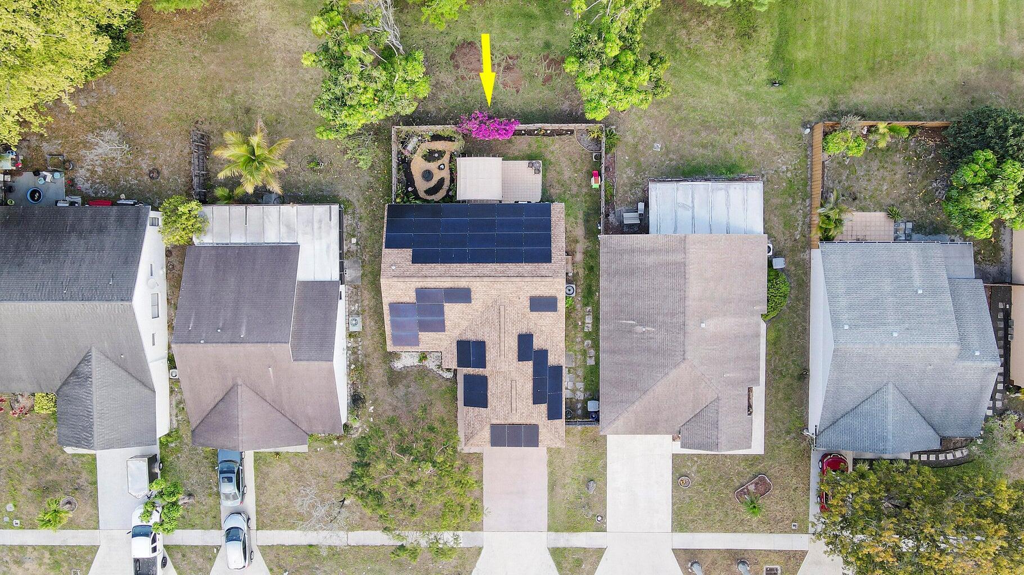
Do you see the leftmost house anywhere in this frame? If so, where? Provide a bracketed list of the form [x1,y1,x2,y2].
[0,205,167,451]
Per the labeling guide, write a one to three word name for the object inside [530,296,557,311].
solar panel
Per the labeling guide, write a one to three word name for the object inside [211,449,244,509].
car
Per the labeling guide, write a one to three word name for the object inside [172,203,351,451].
house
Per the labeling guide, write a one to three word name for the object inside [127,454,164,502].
trailer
